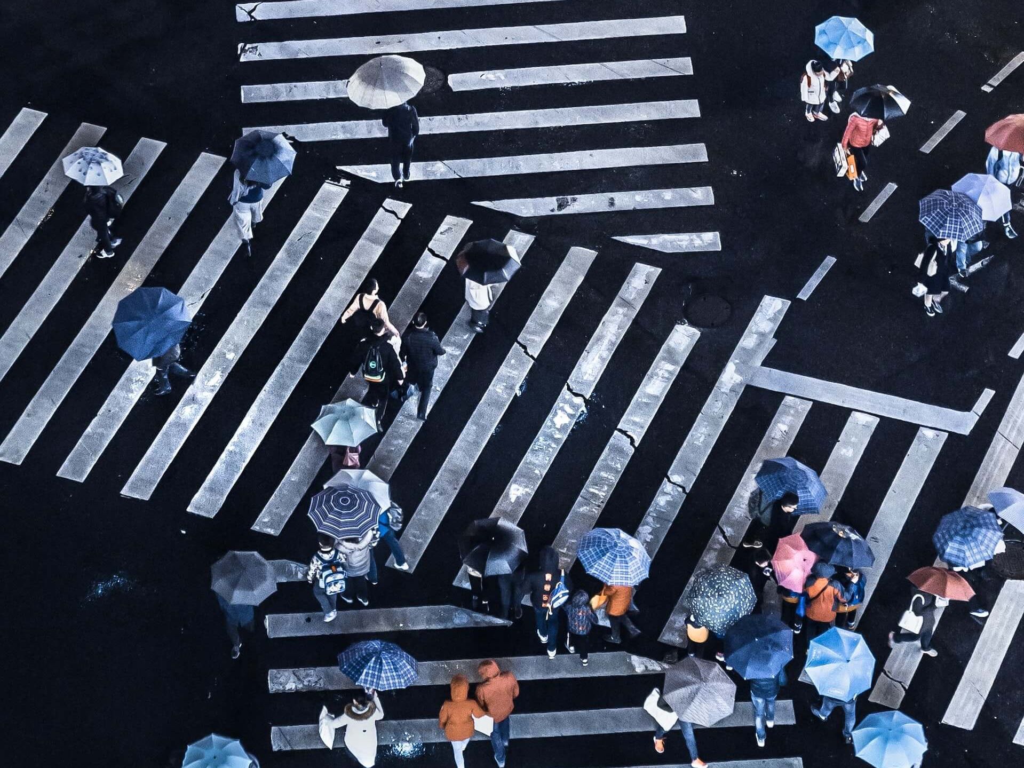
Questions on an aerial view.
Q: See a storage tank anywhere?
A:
No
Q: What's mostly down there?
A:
paved ground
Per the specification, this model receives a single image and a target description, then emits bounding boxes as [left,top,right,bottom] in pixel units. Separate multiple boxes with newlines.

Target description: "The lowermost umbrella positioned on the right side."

[851,708,929,768]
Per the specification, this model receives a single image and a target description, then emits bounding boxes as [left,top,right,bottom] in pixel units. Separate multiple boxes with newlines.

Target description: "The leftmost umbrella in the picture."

[61,145,126,220]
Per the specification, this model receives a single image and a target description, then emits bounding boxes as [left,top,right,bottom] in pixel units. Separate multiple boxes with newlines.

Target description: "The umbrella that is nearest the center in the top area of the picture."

[454,235,521,294]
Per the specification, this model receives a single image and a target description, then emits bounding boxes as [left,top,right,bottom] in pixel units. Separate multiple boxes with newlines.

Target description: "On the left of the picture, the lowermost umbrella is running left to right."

[182,734,251,768]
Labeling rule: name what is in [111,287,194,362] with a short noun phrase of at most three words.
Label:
umbrella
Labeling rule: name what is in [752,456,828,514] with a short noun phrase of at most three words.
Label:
umbrella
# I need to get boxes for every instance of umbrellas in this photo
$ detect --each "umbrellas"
[955,173,1014,222]
[987,481,1024,556]
[454,235,521,294]
[347,57,426,139]
[813,16,875,73]
[577,528,651,596]
[182,734,251,768]
[211,550,278,612]
[686,565,758,634]
[801,516,876,572]
[851,708,929,768]
[905,561,978,618]
[752,456,828,514]
[984,112,1024,188]
[460,518,528,579]
[850,82,911,138]
[312,397,379,471]
[802,626,877,703]
[337,638,419,704]
[933,506,1005,569]
[111,287,194,362]
[662,656,738,730]
[722,612,796,683]
[307,488,378,541]
[61,145,126,220]
[919,190,983,242]
[229,130,297,192]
